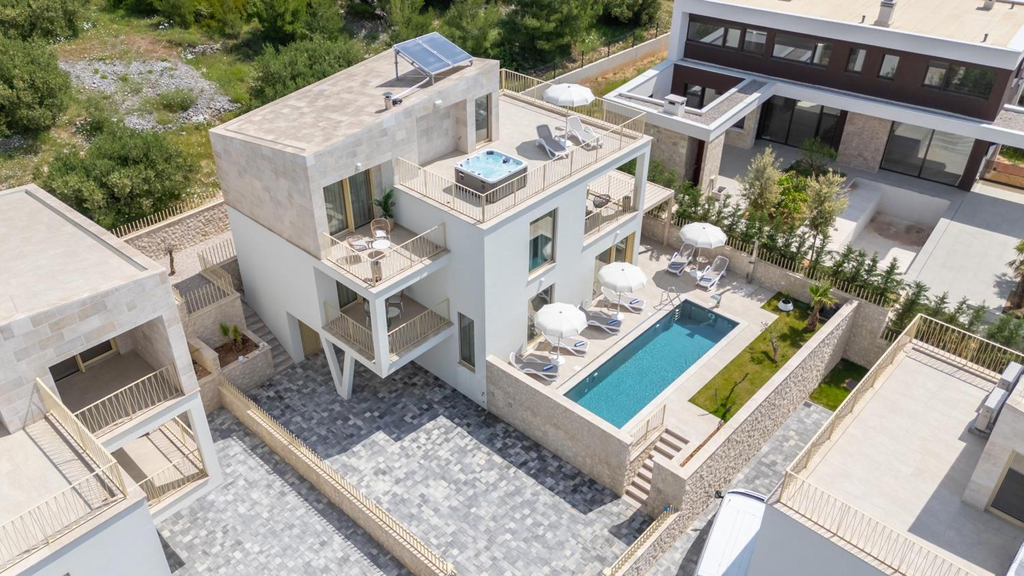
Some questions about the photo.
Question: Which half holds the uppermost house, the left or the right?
right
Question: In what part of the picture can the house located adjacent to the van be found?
bottom right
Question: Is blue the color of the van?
No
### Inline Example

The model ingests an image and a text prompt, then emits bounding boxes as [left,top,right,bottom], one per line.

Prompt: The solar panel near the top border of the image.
[391,23,475,102]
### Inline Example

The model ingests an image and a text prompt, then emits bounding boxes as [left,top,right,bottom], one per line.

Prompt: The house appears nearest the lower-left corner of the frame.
[0,182,226,576]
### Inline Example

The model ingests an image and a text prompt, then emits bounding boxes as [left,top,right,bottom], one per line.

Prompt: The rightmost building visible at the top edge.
[605,0,1024,192]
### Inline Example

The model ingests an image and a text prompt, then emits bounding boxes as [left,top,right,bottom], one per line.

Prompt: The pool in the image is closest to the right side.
[805,178,951,277]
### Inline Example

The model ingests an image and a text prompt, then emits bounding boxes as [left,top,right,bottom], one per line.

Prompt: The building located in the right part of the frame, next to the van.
[749,314,1024,576]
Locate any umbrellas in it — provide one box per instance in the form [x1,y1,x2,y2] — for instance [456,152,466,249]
[544,84,596,146]
[676,224,724,277]
[532,304,587,365]
[597,263,647,320]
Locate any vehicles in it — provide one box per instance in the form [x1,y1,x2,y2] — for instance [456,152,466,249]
[680,501,764,576]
